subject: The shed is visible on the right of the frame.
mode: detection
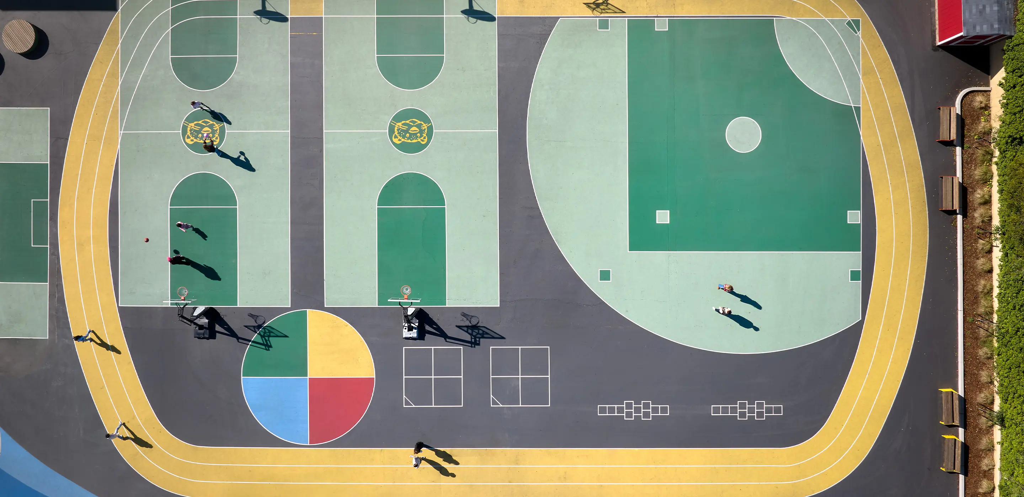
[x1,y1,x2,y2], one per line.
[936,0,1017,45]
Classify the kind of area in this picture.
sports ground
